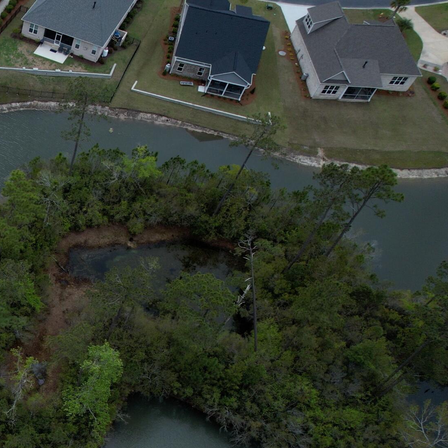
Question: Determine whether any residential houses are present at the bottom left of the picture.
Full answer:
No, no residential house can be made out at the bottom left of the picture.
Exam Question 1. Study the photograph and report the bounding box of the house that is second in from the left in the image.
[170,0,276,101]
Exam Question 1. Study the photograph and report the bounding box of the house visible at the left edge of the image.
[20,0,143,63]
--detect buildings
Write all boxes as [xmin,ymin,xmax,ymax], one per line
[291,0,423,102]
[20,0,143,63]
[170,0,276,101]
